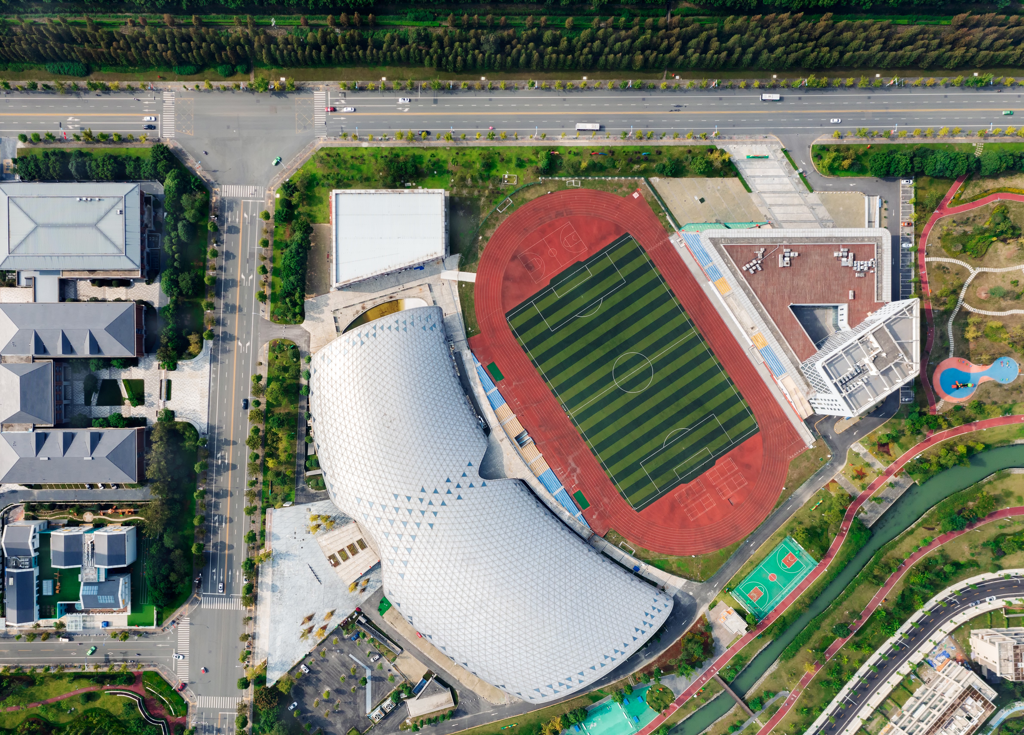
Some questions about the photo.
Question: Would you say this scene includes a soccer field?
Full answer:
Yes, the image includes a soccer field.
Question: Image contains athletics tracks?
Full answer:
Yes, looking at the shot, I can spot an athletics track.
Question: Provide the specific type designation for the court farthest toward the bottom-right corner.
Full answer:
From above, the court farthest toward the bottom-right corner can be identified as a basketball court.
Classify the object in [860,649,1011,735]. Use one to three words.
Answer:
house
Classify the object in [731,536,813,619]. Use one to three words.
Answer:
basketball court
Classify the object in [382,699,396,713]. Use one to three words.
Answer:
cooling tower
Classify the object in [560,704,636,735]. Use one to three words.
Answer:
sports court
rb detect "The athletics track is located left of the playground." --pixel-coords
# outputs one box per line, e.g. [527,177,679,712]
[465,189,807,557]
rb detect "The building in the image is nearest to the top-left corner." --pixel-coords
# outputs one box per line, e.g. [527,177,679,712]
[0,182,160,280]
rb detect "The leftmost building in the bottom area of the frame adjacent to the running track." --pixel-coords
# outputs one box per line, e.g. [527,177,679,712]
[310,307,674,703]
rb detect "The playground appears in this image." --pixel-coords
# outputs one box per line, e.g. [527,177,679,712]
[933,357,1018,402]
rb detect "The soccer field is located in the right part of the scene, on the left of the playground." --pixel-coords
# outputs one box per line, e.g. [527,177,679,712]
[501,229,761,515]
